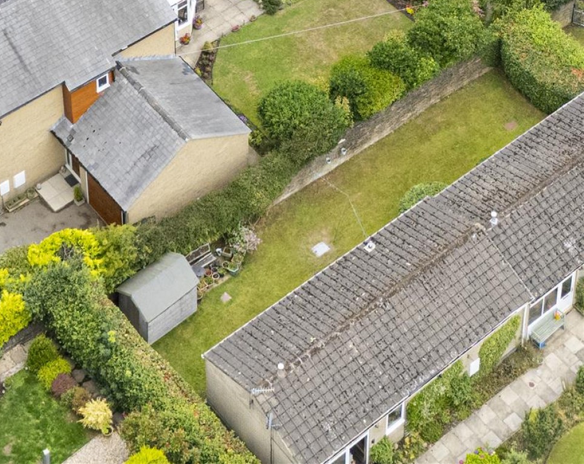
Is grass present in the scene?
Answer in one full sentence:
Yes, there's grass in this view.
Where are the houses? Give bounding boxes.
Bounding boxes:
[0,0,253,235]
[202,77,584,464]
